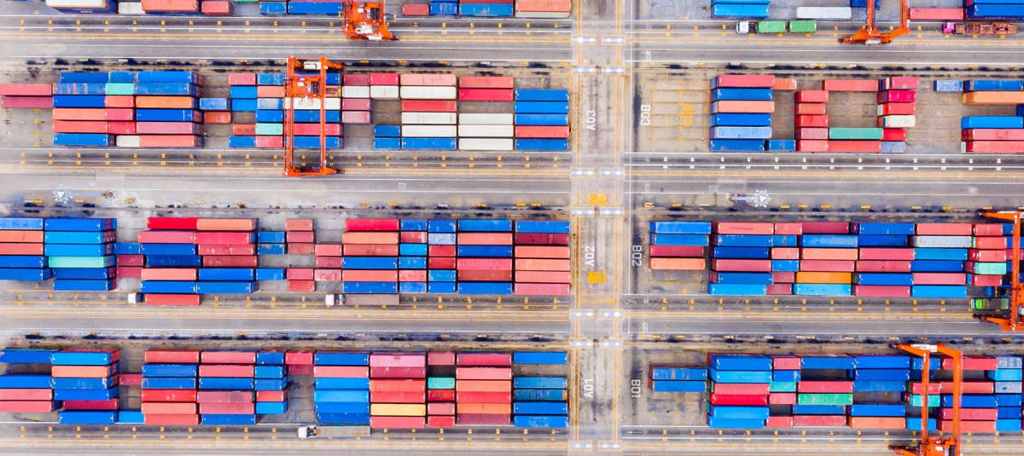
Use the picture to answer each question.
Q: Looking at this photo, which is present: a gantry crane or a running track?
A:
gantry crane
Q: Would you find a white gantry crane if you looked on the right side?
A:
No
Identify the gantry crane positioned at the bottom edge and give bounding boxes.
[878,343,965,456]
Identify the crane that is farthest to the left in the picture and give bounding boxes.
[282,54,353,175]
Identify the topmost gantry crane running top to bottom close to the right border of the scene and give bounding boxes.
[965,211,1024,330]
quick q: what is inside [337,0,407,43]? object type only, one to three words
container crane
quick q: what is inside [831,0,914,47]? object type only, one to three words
container crane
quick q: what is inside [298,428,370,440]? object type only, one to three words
vehicle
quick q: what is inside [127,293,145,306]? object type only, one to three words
vehicle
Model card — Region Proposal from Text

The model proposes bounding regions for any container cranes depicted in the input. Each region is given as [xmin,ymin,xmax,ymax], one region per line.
[282,54,353,175]
[878,343,965,456]
[831,0,914,47]
[337,0,407,43]
[965,211,1024,330]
